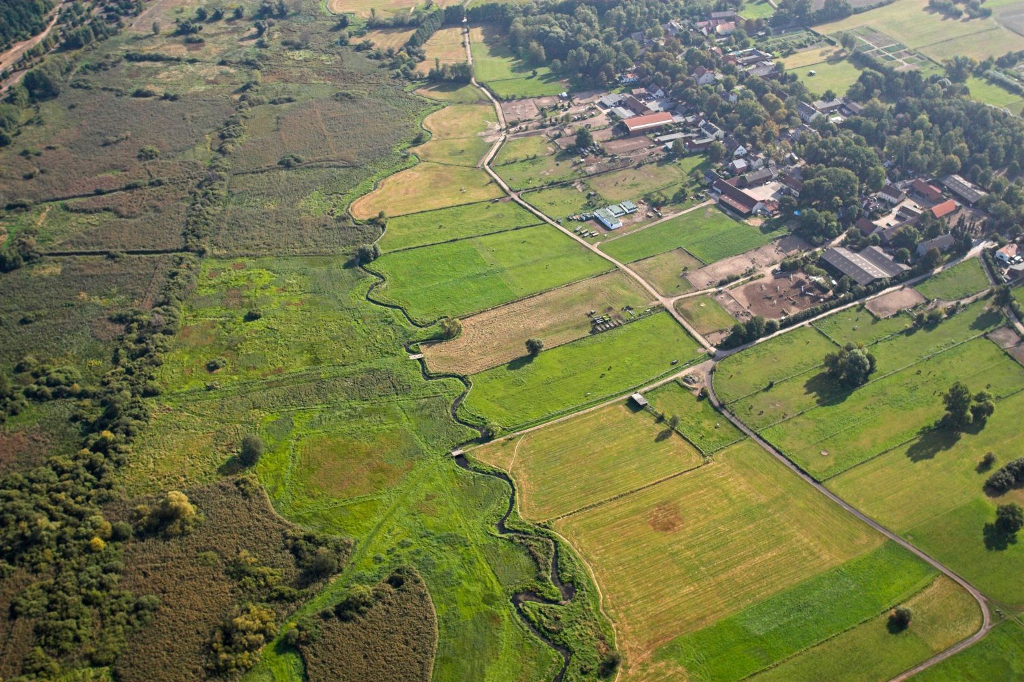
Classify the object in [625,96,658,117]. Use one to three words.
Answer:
barn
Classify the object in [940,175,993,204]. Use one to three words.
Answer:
shed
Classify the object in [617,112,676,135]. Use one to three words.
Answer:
building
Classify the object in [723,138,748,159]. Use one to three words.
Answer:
house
